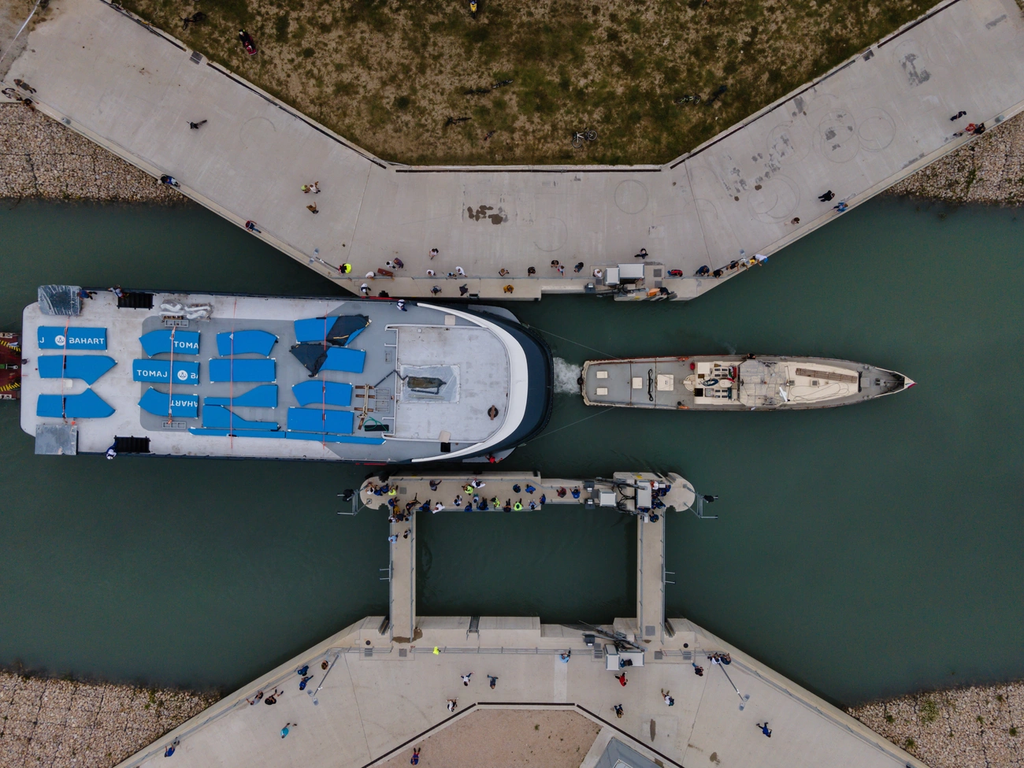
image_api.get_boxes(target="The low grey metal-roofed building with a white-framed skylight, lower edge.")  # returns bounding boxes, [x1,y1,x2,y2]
[594,736,666,768]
